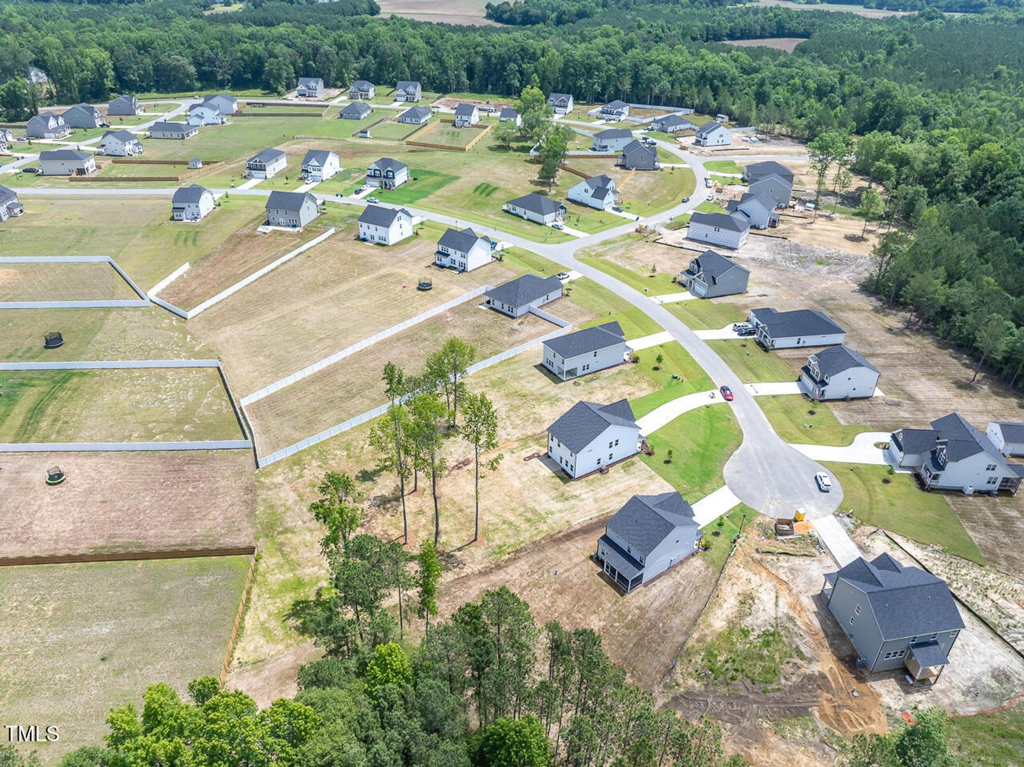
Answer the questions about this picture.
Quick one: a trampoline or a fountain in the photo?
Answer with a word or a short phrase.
trampoline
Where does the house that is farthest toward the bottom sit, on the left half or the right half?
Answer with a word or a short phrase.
right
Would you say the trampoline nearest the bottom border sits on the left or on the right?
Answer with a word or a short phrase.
left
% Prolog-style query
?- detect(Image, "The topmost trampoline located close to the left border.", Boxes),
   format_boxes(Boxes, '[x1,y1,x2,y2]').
[41,330,62,346]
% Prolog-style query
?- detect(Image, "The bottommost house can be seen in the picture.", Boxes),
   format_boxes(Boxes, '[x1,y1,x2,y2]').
[817,554,966,684]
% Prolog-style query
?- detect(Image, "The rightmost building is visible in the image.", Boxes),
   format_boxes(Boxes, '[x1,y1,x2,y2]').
[986,418,1024,457]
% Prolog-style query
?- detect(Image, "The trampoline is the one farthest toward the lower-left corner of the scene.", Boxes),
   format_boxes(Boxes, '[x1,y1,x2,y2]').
[38,462,67,485]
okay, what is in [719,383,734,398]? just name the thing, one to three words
car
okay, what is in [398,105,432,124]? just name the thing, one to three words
house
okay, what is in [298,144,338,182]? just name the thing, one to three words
house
